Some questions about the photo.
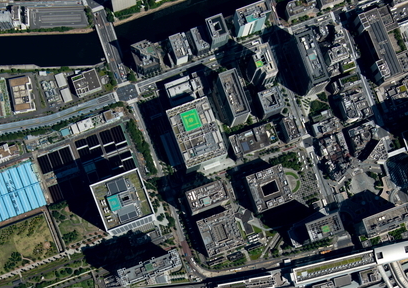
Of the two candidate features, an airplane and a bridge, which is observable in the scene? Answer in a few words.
bridge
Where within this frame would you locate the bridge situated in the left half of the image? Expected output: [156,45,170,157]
[92,2,134,96]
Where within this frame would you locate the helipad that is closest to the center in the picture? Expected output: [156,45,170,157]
[180,108,203,132]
